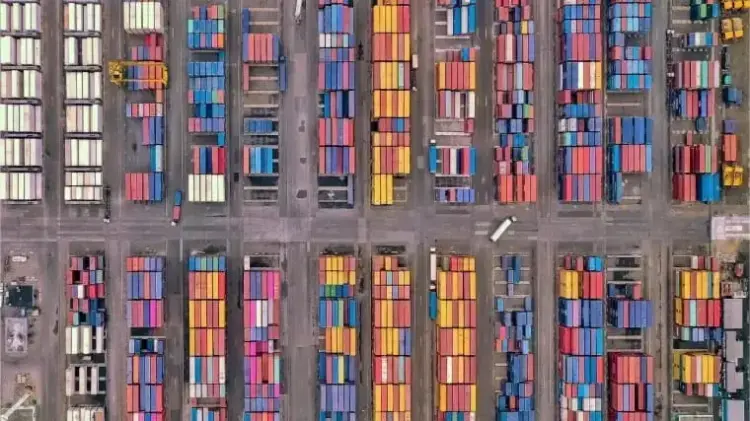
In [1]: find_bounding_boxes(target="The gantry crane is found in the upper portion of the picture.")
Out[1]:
[110,62,171,94]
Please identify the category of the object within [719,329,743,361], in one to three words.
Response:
building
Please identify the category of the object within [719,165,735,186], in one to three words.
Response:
work vehicle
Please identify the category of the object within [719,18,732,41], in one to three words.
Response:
vehicle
